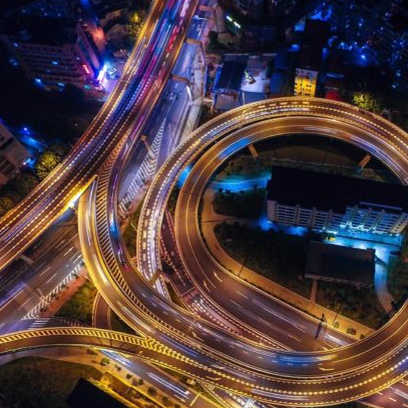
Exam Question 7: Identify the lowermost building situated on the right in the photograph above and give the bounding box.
[305,240,374,291]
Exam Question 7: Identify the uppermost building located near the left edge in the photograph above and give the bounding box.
[0,0,108,72]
